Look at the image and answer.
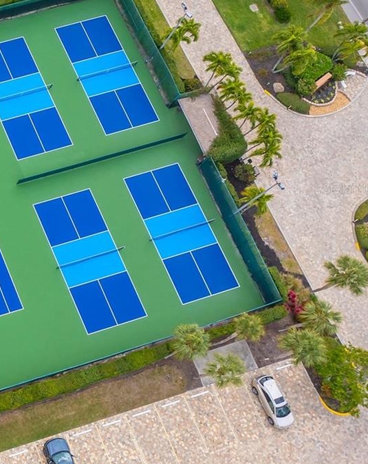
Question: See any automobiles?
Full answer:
Yes, I can see an automobile in this picture.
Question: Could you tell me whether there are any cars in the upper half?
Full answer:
No, no car appears in the upper half.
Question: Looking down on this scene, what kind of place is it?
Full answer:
The area seen from above is a sports ground.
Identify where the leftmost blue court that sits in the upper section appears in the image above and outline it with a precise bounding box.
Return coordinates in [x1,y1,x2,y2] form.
[0,37,73,160]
